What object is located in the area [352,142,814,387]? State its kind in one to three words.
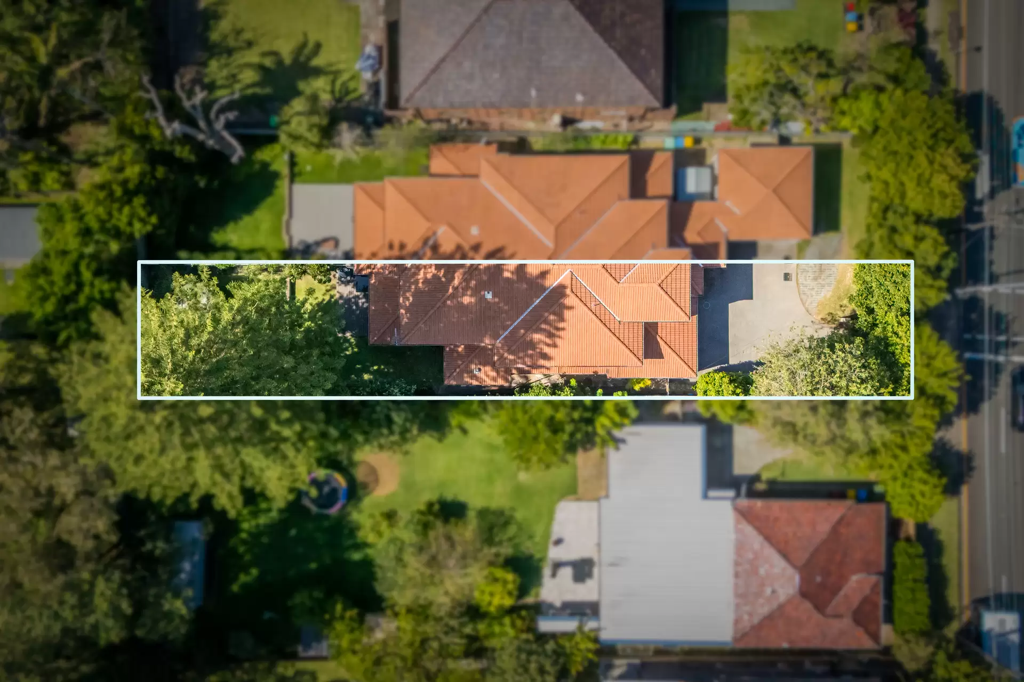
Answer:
house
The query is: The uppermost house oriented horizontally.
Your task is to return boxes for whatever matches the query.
[397,0,667,122]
